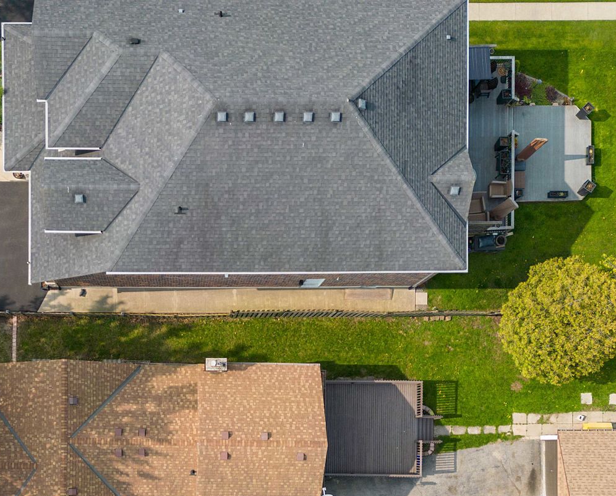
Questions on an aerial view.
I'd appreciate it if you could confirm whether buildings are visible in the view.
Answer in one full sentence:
Yes, this view includes a building.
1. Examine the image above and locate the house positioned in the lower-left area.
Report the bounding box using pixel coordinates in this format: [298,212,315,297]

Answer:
[0,358,334,496]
